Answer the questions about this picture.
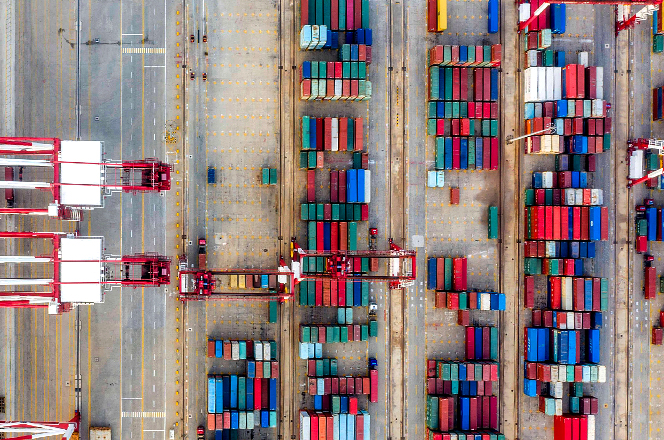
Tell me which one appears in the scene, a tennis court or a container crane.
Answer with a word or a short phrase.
container crane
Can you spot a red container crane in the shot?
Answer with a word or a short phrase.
Yes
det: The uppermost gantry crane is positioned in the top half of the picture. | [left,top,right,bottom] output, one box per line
[519,0,664,39]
